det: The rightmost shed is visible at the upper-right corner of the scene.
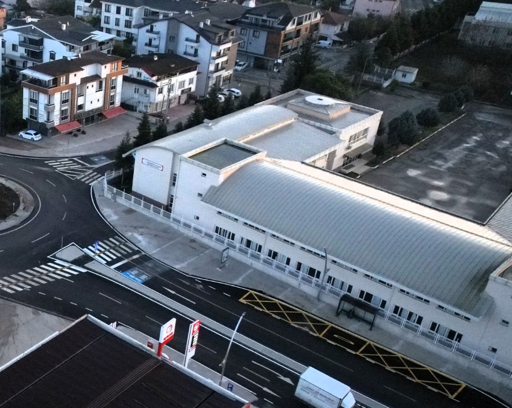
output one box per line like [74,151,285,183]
[460,0,512,43]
